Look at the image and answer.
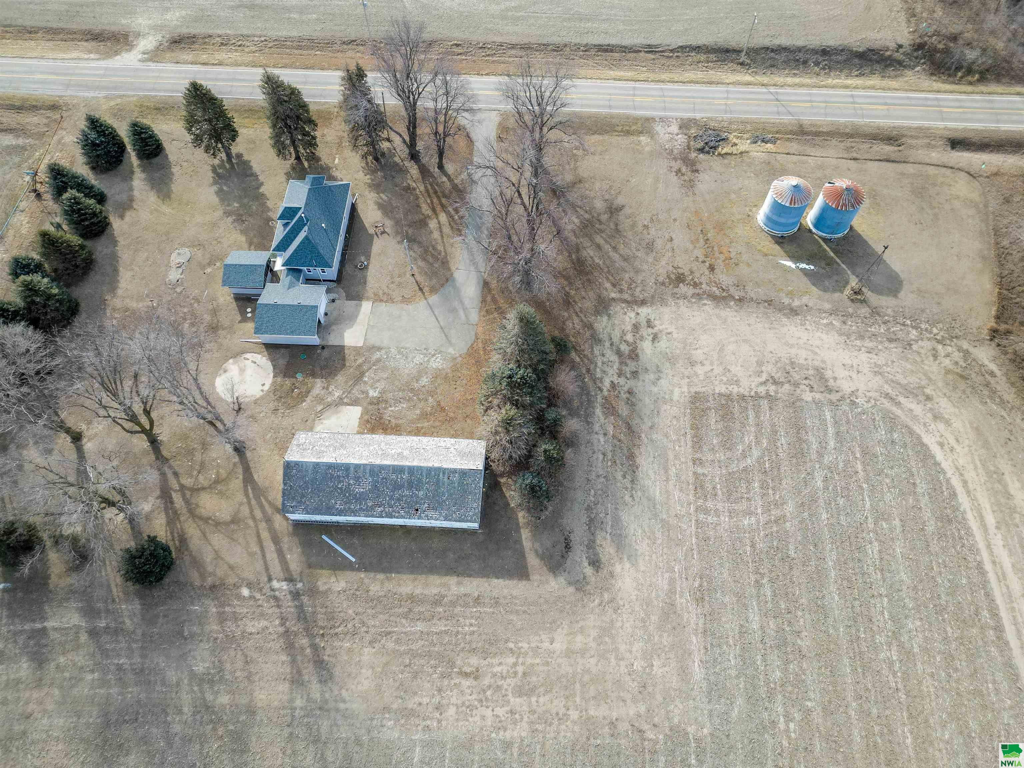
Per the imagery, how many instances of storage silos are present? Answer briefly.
2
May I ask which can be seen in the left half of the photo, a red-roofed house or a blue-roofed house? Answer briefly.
blue-roofed house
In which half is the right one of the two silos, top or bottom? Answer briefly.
top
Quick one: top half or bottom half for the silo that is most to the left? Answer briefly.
top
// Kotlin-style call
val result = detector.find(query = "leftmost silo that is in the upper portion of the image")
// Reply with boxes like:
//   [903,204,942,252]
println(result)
[757,177,813,236]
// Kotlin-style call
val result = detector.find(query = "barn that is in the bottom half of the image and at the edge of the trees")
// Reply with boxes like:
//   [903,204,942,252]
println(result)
[282,431,486,532]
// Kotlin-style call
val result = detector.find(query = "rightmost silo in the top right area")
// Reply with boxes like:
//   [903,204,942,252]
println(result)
[806,179,865,239]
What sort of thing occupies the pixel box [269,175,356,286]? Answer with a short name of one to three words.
house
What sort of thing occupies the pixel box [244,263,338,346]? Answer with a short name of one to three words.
building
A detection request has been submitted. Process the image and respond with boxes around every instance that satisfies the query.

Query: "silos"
[757,177,813,236]
[806,179,865,239]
